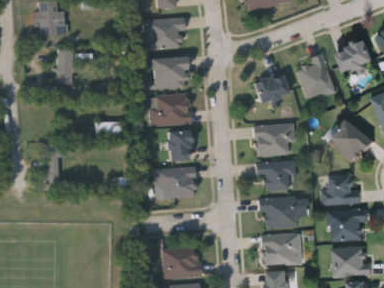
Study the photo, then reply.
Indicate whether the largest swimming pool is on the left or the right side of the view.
right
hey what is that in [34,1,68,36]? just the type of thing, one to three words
house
